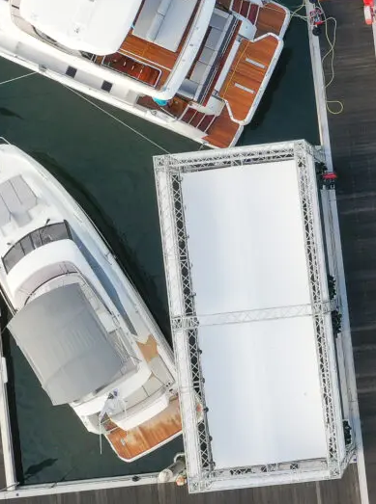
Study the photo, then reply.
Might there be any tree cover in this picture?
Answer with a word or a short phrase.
No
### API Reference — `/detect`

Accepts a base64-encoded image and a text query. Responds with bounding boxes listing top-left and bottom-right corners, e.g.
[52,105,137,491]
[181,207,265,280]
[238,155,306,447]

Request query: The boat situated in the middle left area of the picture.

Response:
[0,136,184,461]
